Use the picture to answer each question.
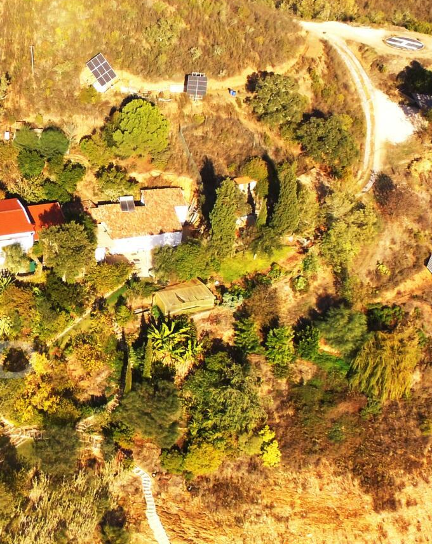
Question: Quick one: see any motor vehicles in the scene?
No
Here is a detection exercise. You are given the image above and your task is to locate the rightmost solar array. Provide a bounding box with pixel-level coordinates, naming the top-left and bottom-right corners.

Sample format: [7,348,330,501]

[187,72,208,103]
